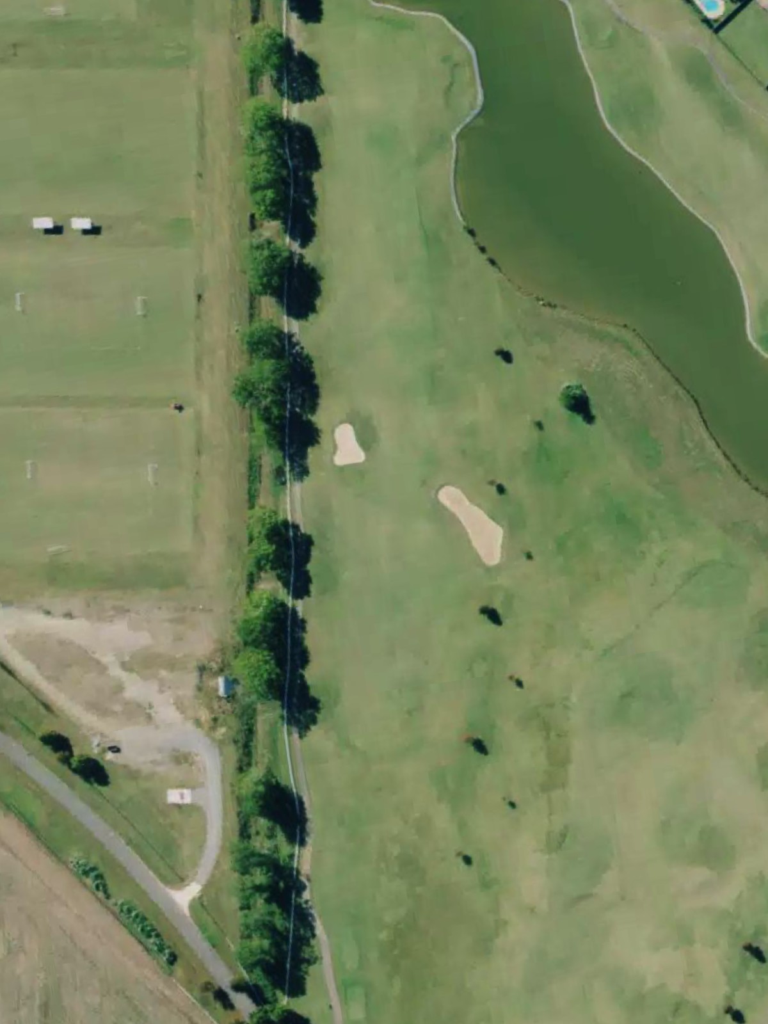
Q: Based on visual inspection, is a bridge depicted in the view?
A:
No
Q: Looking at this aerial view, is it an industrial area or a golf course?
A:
golf course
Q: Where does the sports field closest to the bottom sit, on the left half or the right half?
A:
left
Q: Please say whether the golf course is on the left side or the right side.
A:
right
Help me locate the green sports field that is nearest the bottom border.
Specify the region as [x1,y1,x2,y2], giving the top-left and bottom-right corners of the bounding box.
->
[0,410,192,558]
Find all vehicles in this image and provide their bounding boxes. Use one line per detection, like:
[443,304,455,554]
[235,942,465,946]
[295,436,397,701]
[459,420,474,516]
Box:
[170,405,179,410]
[107,744,118,751]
